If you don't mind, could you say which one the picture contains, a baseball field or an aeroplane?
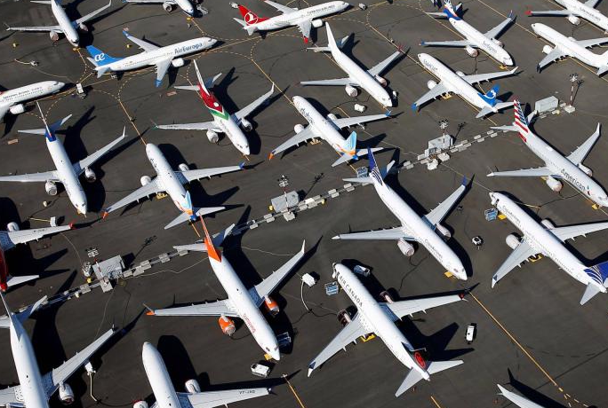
aeroplane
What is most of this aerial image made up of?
paved ground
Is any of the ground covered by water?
No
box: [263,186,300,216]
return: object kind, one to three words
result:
shed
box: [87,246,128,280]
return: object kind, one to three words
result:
shed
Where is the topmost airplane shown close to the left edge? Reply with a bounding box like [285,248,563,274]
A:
[2,0,117,50]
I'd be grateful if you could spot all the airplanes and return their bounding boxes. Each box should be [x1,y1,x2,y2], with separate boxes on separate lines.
[412,58,516,118]
[144,218,308,358]
[0,290,123,408]
[233,0,348,44]
[130,343,274,408]
[332,150,467,278]
[0,218,80,291]
[151,61,278,155]
[269,98,390,168]
[527,0,608,35]
[295,24,403,107]
[421,0,515,66]
[100,145,247,230]
[306,267,466,398]
[0,106,132,210]
[531,25,608,75]
[87,29,220,88]
[2,0,117,50]
[488,101,608,206]
[490,195,608,304]
[0,82,70,133]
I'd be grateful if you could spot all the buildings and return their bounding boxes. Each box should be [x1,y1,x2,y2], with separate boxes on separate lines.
[532,95,560,118]
[422,130,456,156]
[87,246,128,280]
[263,186,300,216]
